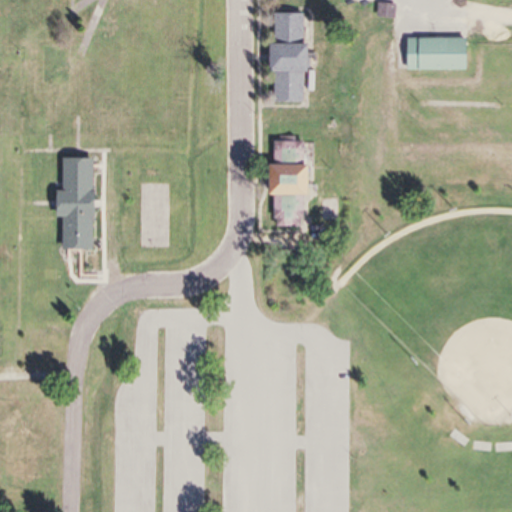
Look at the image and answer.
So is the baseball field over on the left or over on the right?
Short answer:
right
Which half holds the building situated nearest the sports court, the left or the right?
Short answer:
left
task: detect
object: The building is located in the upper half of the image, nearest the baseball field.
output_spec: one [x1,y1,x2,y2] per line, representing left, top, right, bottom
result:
[269,134,308,226]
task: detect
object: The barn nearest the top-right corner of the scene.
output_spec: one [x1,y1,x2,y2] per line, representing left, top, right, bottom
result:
[407,37,467,70]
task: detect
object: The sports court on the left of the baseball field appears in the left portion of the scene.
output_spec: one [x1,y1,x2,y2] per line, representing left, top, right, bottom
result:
[141,182,169,246]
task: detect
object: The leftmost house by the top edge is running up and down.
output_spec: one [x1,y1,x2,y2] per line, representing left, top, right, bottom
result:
[270,12,316,102]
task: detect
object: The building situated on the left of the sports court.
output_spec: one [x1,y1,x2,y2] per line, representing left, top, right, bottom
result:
[56,157,95,248]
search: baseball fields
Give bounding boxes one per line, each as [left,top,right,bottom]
[331,206,512,435]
